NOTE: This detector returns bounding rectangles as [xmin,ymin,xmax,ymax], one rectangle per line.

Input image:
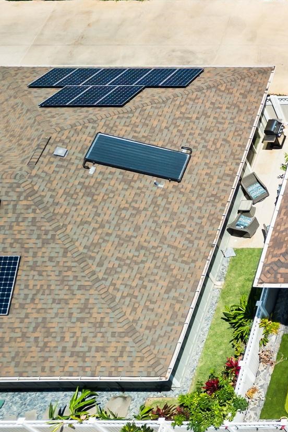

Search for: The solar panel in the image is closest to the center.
[87,128,189,179]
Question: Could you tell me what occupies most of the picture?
buildings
